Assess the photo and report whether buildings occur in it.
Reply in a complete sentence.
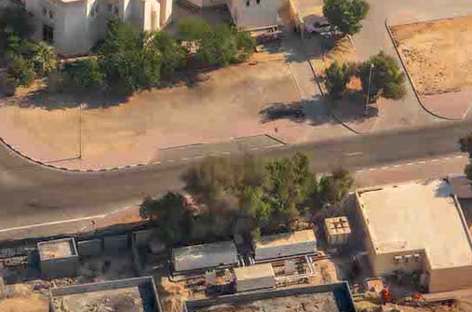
Yes, a building is visible in the scene.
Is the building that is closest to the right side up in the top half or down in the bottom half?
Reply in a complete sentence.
The building that is closest to the right side is in the bottom half of the image.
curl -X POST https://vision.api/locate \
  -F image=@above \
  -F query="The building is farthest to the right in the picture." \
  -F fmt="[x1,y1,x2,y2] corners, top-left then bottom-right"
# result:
[354,180,472,291]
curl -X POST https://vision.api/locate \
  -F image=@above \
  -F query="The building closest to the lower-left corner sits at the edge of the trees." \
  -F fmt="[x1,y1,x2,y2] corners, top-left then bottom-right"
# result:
[170,238,238,272]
